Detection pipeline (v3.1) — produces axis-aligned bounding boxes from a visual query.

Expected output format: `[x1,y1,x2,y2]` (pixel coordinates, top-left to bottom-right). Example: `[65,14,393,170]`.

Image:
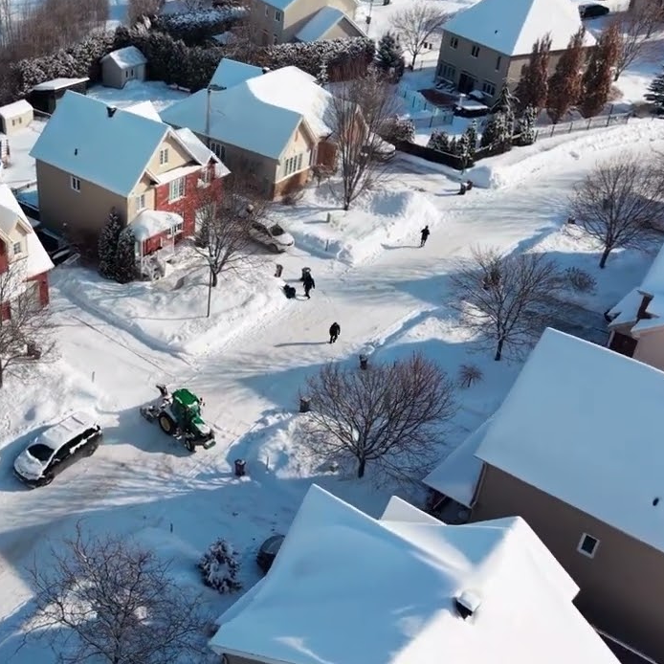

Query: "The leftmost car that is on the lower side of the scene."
[13,410,104,480]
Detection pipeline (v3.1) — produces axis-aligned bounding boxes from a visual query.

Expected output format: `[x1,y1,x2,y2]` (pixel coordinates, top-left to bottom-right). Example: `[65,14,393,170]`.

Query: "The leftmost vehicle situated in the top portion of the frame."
[33,219,73,252]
